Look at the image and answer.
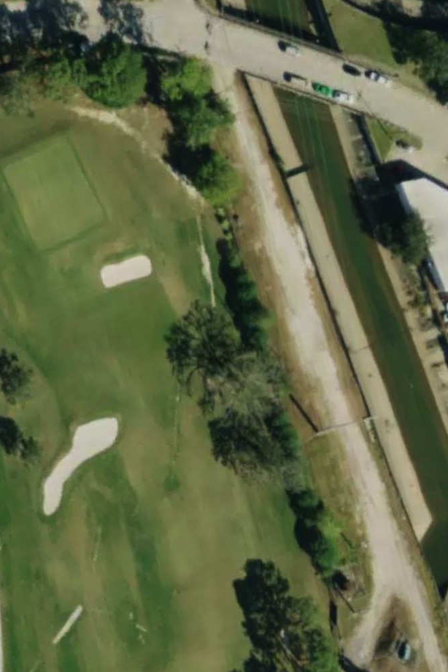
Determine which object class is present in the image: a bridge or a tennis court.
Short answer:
bridge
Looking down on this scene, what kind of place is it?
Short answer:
golf course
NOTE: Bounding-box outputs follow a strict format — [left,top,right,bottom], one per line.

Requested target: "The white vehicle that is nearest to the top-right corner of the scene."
[367,70,391,87]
